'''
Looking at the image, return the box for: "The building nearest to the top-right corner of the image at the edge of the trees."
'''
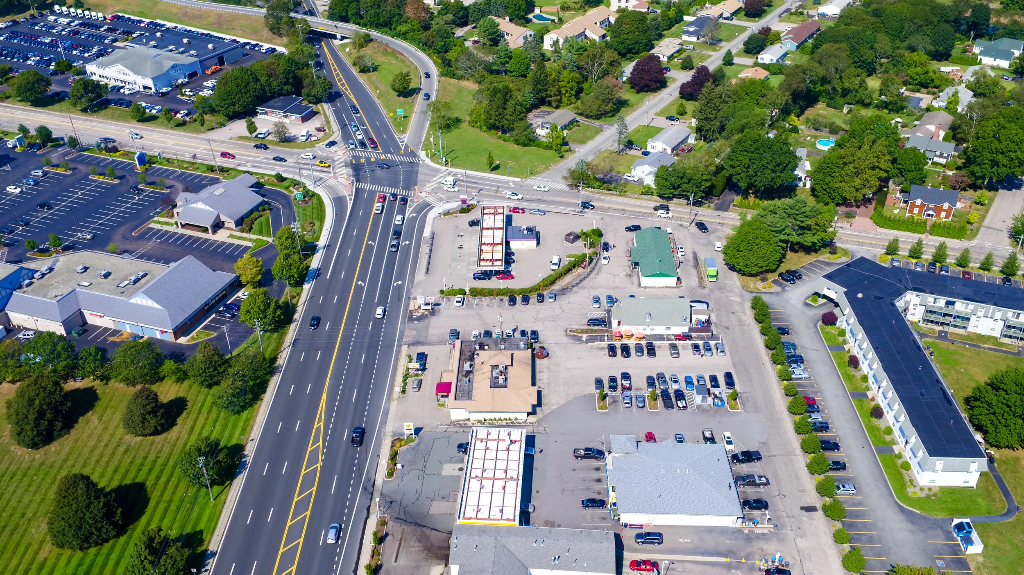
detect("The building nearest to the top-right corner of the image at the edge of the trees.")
[973,41,1024,72]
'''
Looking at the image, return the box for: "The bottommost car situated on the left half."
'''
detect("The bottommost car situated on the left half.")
[327,524,341,547]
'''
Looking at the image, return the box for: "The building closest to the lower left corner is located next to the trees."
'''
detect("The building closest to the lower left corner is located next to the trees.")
[0,248,238,344]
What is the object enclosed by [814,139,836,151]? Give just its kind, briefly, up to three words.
swimming pool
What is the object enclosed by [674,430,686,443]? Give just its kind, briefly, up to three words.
vehicle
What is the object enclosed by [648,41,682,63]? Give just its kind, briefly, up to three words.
house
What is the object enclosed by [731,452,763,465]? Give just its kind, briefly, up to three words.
vehicle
